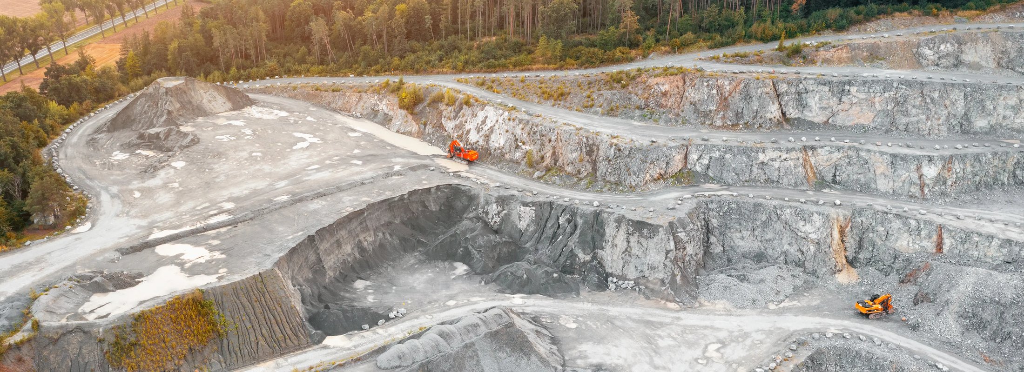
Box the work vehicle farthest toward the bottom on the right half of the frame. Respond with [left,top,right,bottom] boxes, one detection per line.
[856,292,895,321]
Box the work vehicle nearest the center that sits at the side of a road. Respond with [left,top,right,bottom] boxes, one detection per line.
[444,132,476,163]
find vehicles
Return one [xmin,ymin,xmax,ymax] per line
[856,292,895,321]
[444,132,476,163]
